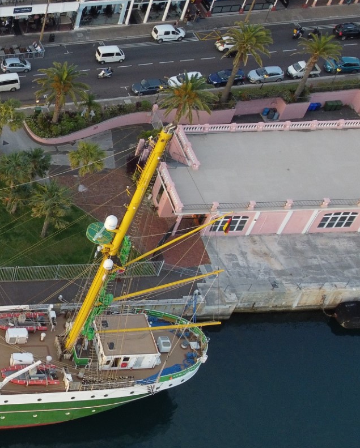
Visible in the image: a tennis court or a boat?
boat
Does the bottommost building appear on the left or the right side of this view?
right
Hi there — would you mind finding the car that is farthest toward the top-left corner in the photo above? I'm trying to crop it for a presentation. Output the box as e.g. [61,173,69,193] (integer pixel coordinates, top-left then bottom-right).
[2,58,33,74]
